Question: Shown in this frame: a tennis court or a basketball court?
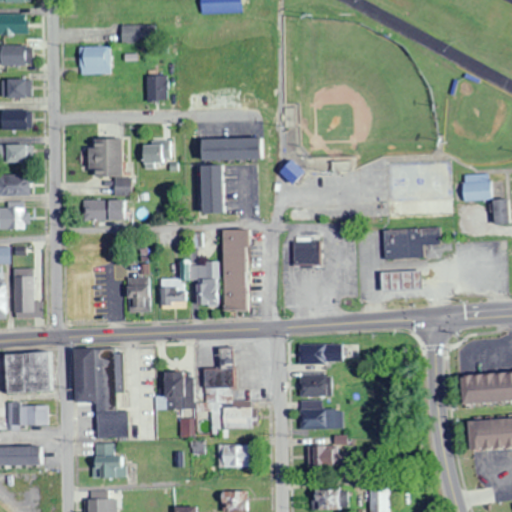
basketball court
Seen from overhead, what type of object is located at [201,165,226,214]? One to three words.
building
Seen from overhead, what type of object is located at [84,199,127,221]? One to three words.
house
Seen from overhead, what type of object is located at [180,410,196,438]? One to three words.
shed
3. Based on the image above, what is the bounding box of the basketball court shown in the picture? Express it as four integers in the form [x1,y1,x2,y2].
[389,162,454,218]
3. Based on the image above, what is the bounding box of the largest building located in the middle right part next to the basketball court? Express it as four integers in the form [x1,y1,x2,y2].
[384,228,441,260]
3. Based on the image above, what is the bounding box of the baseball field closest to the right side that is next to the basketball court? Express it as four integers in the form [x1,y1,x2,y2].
[444,75,512,168]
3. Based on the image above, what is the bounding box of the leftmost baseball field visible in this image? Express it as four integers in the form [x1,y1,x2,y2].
[284,16,438,162]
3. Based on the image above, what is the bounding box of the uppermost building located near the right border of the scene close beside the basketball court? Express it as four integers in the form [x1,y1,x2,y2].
[462,174,494,202]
